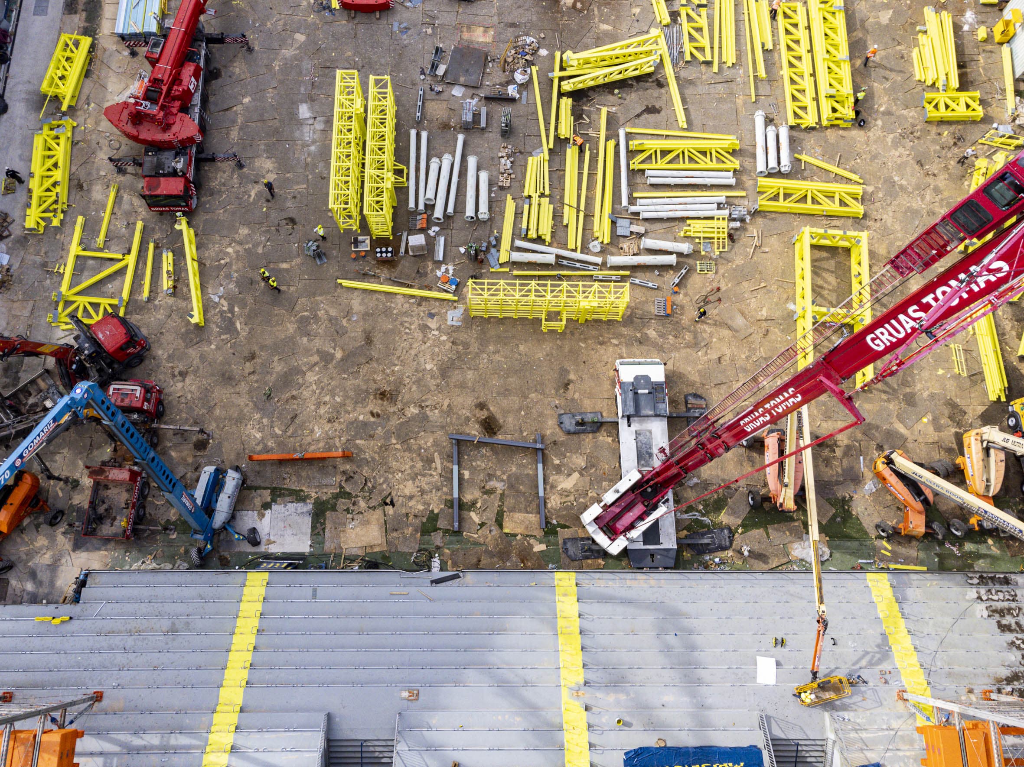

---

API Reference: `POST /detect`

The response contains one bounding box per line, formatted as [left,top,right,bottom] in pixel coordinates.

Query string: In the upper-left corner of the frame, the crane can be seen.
[102,0,254,212]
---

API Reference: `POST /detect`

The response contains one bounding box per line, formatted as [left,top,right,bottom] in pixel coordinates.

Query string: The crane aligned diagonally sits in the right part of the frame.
[573,147,1024,570]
